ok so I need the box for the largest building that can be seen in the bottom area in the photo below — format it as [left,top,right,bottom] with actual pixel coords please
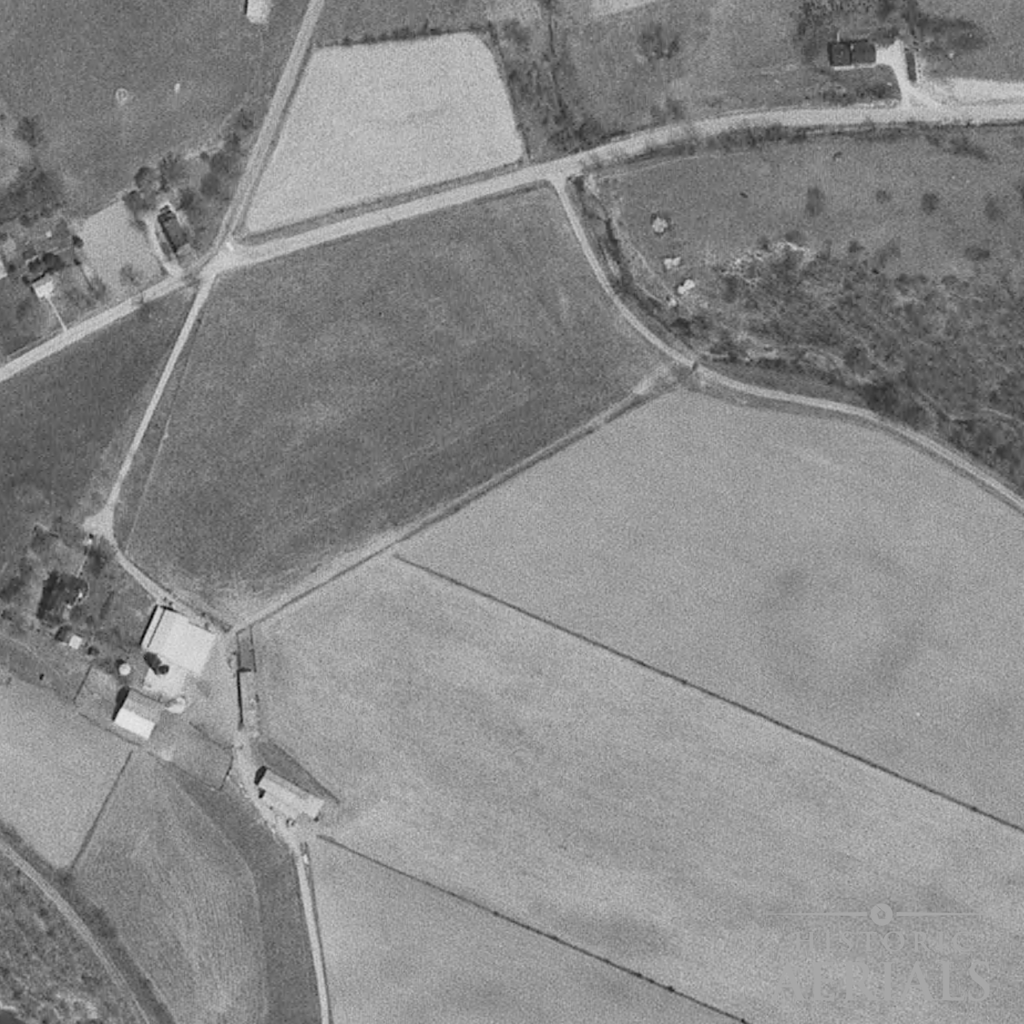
[141,606,215,675]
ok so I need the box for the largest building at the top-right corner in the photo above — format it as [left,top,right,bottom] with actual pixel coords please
[829,42,876,67]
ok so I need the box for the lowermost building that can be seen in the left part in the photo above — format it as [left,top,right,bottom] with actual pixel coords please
[258,768,324,817]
